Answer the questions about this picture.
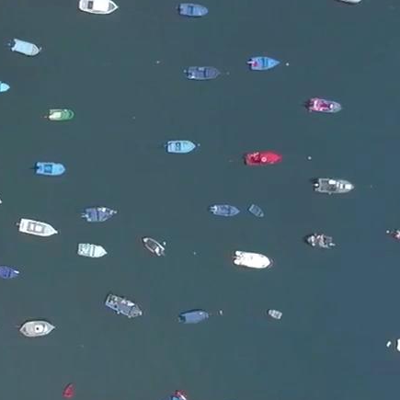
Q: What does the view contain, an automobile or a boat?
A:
boat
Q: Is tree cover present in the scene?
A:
No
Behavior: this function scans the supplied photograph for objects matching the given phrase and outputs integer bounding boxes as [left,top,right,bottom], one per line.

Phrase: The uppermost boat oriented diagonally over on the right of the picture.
[247,202,262,216]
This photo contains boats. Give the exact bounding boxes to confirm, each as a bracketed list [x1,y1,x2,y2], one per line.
[6,38,41,55]
[172,390,186,400]
[0,82,10,92]
[20,321,56,338]
[308,178,354,193]
[247,202,262,216]
[179,67,220,79]
[0,267,18,279]
[244,152,283,166]
[306,236,334,247]
[167,140,198,153]
[77,0,118,14]
[43,110,75,121]
[243,57,279,71]
[177,311,209,325]
[172,3,208,16]
[390,229,400,240]
[267,308,283,320]
[144,238,168,259]
[229,251,272,268]
[77,244,107,257]
[302,99,341,111]
[62,384,72,399]
[29,162,66,176]
[102,293,143,315]
[78,208,115,223]
[11,218,59,236]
